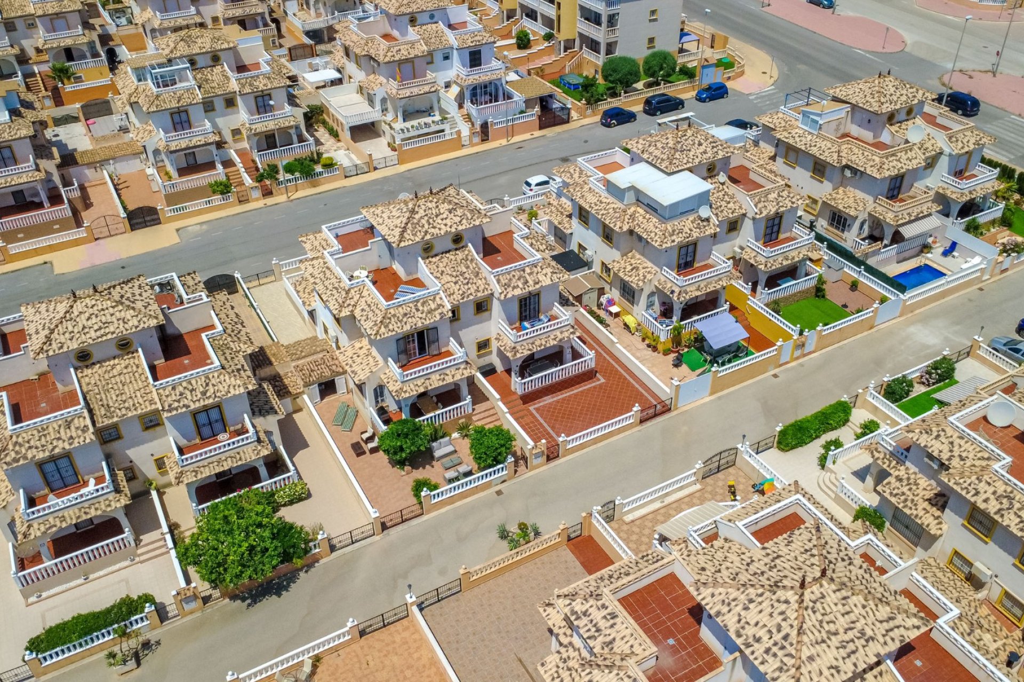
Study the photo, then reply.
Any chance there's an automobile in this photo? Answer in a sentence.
Yes, I can see an automobile in this picture.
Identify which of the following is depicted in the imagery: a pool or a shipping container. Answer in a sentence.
I can see a pool in this picture.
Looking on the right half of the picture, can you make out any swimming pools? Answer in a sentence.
Yes, the scene does show a swimming pool on the right half of the picture.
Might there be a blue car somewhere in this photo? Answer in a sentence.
Yes, there's a blue car here.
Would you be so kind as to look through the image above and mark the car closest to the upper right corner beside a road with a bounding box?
[937,88,988,112]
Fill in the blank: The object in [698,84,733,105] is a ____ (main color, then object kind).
blue car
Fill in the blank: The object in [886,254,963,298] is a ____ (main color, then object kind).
blue swimming pool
